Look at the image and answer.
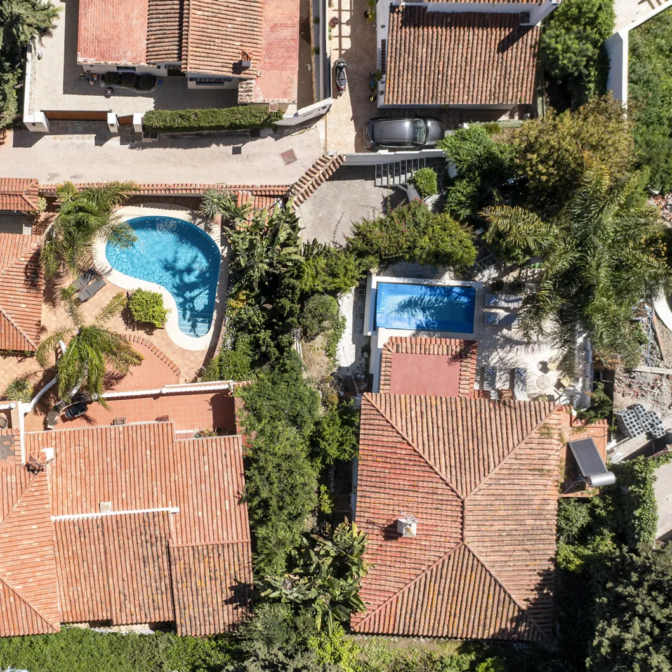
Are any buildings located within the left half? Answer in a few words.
Yes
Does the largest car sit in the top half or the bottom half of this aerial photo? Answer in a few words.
top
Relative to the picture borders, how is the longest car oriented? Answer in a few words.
horizontally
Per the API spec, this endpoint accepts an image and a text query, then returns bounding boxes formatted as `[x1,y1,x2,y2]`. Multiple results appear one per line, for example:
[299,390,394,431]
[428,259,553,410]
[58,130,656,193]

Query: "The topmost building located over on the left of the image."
[76,0,300,109]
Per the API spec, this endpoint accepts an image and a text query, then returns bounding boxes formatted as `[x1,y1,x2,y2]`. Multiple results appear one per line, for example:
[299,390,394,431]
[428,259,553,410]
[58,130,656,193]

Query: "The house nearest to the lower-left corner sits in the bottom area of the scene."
[0,419,255,638]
